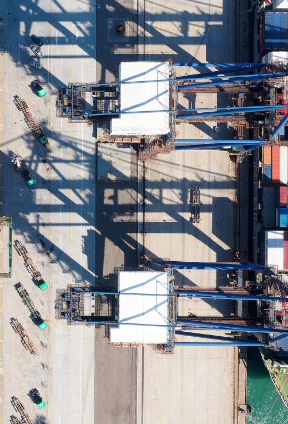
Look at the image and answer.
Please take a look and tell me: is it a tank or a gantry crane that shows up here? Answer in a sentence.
The image shows a gantry crane.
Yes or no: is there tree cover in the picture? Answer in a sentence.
No, the picture contains no tree cover.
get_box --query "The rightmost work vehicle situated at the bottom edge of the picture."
[29,388,45,408]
